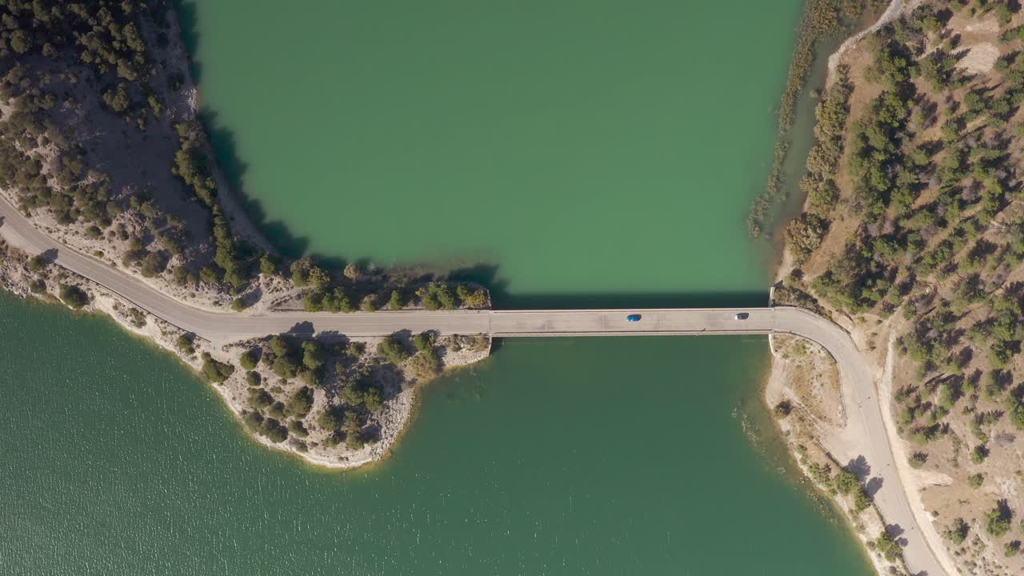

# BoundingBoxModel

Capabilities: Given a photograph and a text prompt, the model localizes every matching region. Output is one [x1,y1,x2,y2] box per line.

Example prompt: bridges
[487,307,775,337]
